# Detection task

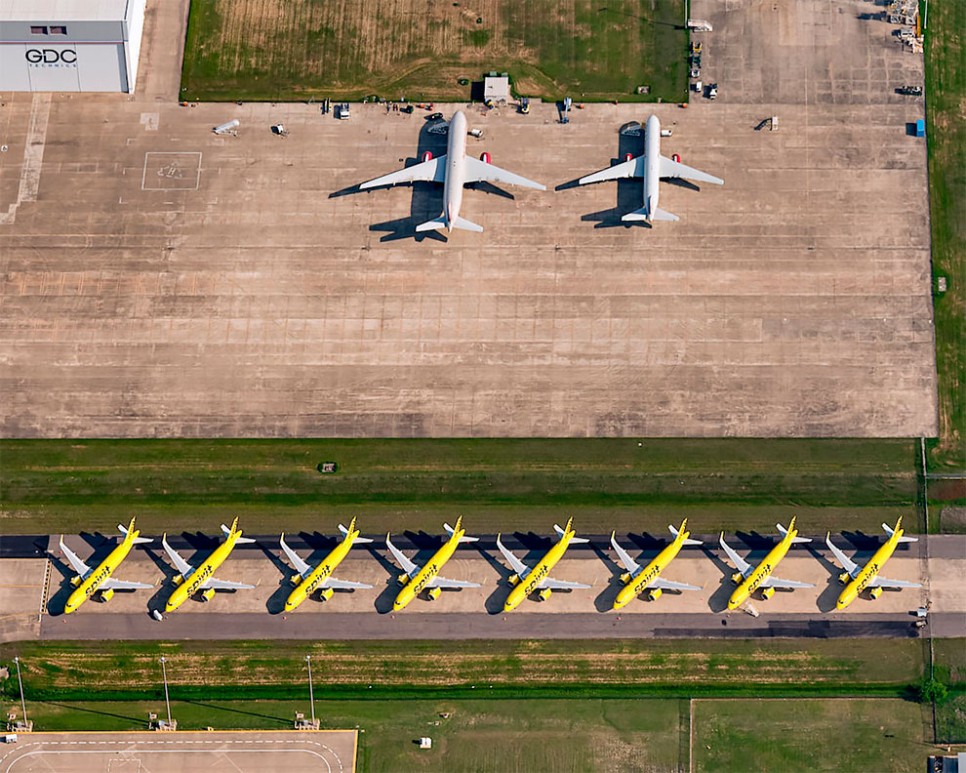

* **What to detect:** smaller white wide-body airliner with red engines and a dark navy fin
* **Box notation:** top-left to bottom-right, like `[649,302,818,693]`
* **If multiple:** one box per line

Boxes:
[579,113,724,220]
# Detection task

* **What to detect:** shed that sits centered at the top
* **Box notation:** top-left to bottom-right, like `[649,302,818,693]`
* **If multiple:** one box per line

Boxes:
[484,78,513,107]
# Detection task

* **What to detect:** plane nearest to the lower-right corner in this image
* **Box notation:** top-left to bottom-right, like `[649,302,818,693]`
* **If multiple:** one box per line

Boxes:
[824,517,926,610]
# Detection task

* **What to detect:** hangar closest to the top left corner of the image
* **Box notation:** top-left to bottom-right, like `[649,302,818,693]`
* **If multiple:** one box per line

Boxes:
[0,0,143,92]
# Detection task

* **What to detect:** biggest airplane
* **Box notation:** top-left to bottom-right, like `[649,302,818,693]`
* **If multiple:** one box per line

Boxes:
[360,108,545,232]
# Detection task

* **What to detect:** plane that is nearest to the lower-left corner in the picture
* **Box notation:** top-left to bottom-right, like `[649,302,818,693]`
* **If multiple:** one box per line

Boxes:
[61,519,158,613]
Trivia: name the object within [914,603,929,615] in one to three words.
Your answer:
vehicle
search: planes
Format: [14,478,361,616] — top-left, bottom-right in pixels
[386,518,484,612]
[824,517,926,610]
[279,518,376,612]
[579,113,724,220]
[360,108,545,232]
[161,519,257,613]
[717,518,818,610]
[607,518,705,610]
[495,518,595,612]
[61,519,158,613]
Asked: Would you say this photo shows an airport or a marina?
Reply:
airport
